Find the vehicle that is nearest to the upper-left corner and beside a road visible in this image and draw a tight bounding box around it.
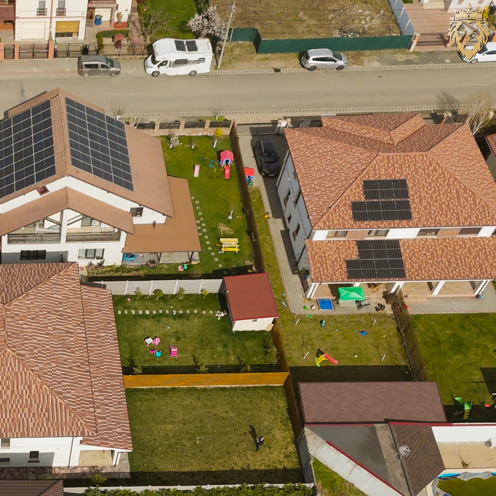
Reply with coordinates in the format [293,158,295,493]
[80,52,122,75]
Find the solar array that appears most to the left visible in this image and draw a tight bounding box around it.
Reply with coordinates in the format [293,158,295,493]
[0,102,58,196]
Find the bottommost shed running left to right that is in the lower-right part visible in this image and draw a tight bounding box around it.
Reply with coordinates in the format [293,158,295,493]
[294,383,447,436]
